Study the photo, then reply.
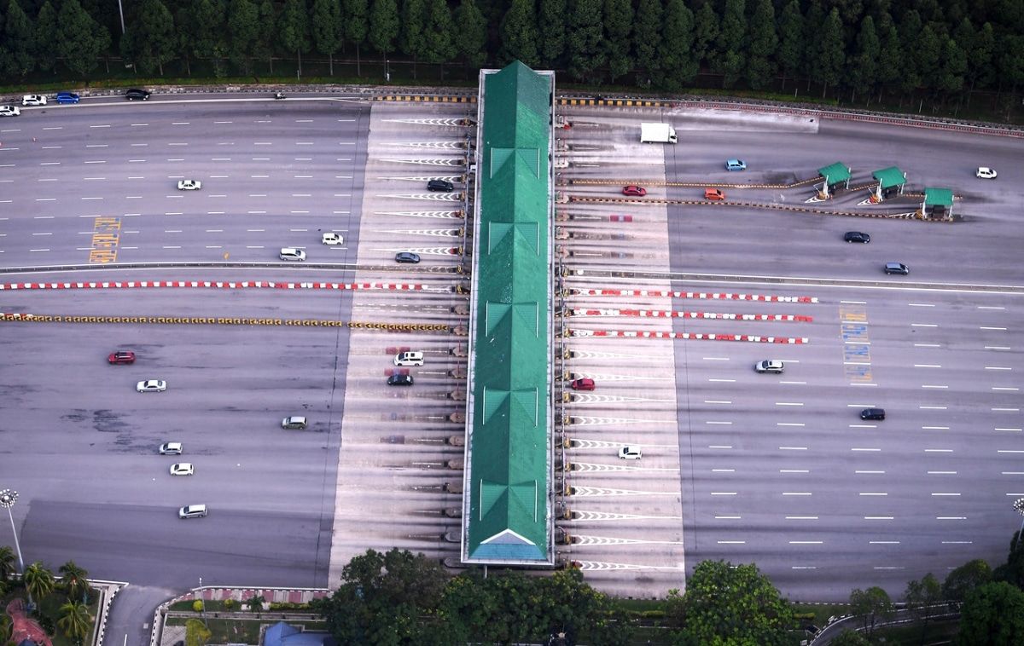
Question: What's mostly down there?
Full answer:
The scene is dominated by paved ground.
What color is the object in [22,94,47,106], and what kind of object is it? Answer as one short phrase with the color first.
white vehicle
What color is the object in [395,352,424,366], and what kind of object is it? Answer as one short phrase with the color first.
white car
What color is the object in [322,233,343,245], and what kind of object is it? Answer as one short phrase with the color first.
white vehicle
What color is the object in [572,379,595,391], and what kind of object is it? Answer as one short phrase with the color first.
red vehicle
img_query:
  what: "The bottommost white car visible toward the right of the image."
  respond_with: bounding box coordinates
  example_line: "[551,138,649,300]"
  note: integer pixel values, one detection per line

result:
[619,446,642,459]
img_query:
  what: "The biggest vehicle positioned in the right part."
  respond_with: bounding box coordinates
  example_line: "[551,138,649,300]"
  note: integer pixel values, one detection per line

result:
[639,122,675,144]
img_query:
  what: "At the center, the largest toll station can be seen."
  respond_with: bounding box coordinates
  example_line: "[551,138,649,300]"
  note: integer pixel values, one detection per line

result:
[462,58,554,585]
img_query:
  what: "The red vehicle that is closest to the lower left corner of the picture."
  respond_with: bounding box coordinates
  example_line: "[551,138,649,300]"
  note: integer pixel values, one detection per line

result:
[108,351,136,365]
